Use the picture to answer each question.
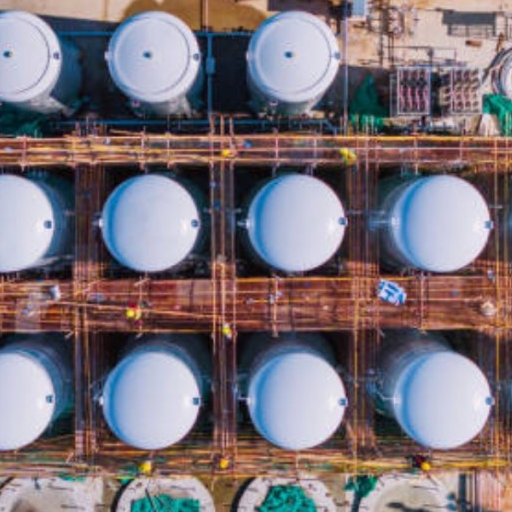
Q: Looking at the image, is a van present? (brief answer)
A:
No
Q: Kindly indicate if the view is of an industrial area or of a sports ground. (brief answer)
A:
industrial area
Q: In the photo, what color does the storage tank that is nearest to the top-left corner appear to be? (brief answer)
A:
white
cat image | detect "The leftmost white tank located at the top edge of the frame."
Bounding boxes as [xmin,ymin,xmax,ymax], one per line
[0,10,83,116]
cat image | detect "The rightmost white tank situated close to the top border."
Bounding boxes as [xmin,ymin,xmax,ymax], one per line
[232,9,340,119]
